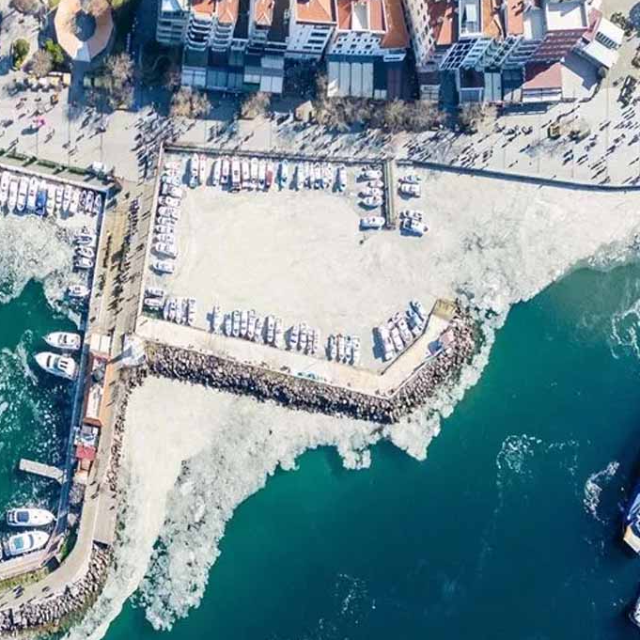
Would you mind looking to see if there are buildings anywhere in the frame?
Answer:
Yes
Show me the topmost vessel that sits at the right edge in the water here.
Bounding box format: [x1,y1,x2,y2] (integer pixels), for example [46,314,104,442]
[613,487,640,551]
